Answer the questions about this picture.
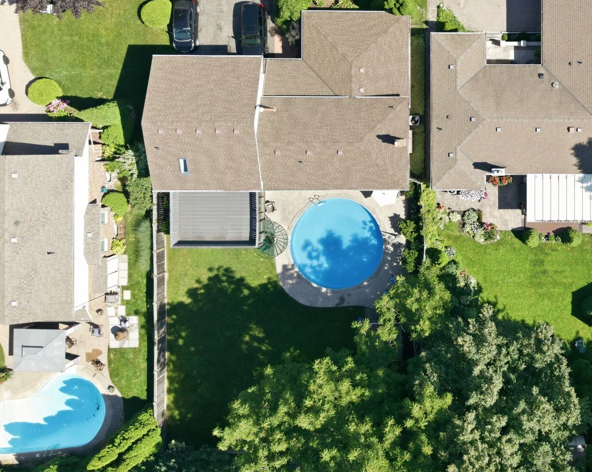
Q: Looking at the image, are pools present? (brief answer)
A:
Yes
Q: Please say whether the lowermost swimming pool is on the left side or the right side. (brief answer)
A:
left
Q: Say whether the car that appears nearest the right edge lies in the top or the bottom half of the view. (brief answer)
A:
top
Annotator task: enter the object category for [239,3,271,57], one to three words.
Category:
car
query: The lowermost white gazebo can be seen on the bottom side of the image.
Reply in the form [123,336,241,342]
[13,321,83,374]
